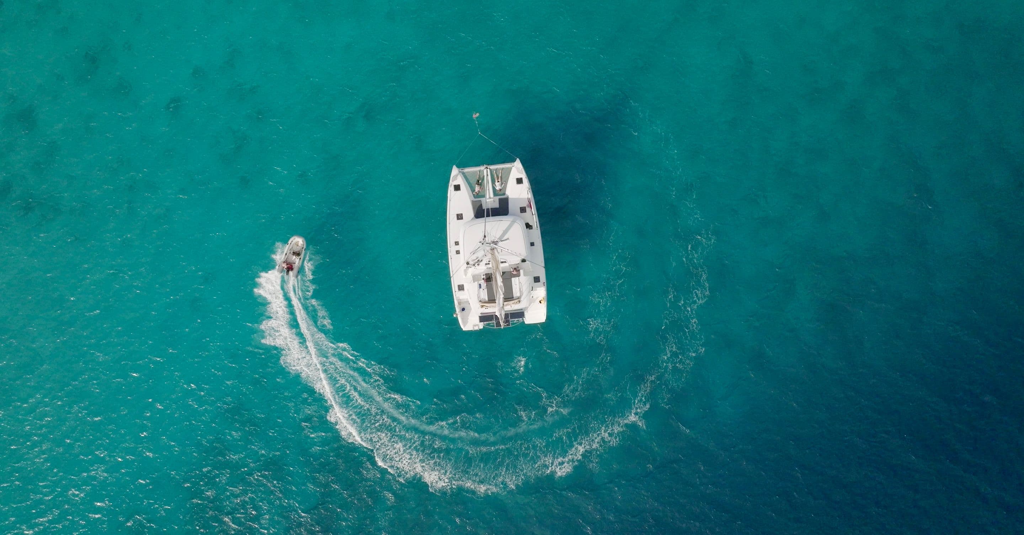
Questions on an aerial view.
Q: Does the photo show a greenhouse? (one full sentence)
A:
No, the scene contains no greenhouse.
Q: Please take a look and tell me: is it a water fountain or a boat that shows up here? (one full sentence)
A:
I can see a boat in this picture.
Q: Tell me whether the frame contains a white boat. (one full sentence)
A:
Yes, a white boat can be made out from above.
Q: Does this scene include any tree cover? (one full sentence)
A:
No, the scene doesn't show any tree cover.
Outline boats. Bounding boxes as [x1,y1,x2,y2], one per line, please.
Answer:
[278,234,307,276]
[447,159,547,331]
